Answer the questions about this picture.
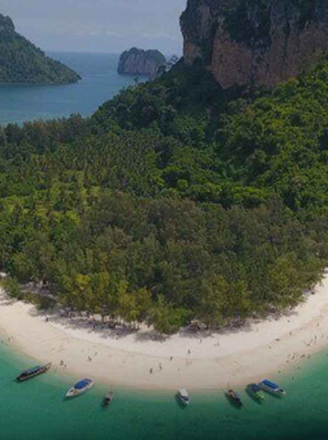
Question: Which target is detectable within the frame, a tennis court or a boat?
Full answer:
Visible in the photo is a boat.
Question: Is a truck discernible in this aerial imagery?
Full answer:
No, the frame has no truck in it.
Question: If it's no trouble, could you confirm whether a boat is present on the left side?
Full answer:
Yes, looking on the left side, one can make out a boat.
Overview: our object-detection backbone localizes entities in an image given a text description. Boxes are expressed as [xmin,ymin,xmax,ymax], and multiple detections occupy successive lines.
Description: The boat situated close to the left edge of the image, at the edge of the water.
[8,357,50,384]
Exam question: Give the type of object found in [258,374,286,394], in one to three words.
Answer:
boat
